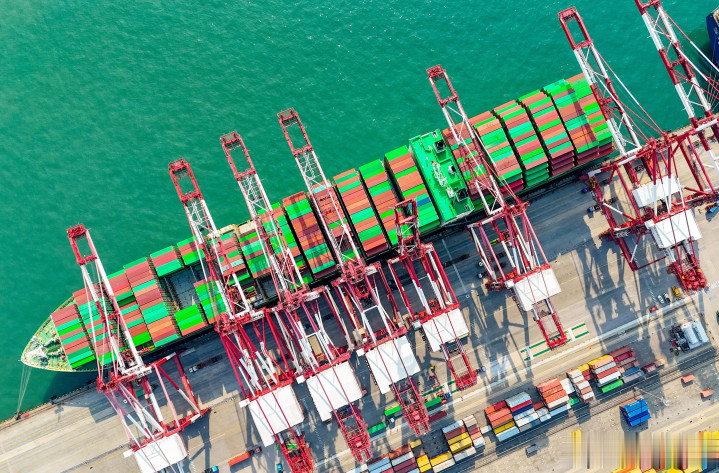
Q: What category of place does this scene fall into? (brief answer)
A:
port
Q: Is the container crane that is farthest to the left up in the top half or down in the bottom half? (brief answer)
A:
bottom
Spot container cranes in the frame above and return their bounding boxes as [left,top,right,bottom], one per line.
[276,106,434,440]
[378,196,480,389]
[558,1,708,296]
[62,220,214,473]
[165,154,319,473]
[219,128,377,466]
[426,60,569,347]
[637,0,719,246]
